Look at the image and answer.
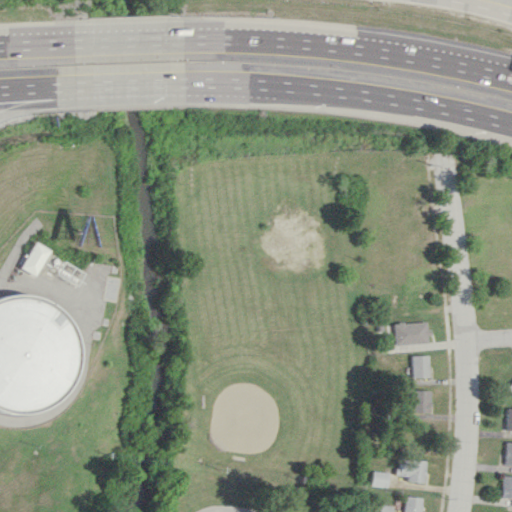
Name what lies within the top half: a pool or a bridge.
bridge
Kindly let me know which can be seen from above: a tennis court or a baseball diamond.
baseball diamond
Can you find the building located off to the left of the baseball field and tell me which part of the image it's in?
left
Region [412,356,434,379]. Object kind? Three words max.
house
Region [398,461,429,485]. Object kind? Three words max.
house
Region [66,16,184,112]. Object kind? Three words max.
bridge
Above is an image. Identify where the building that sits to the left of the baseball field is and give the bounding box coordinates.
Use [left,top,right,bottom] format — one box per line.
[21,242,52,276]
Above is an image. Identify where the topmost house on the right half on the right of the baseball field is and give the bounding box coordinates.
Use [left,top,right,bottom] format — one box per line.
[394,322,432,346]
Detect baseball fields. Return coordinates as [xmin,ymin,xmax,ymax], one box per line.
[178,153,360,505]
